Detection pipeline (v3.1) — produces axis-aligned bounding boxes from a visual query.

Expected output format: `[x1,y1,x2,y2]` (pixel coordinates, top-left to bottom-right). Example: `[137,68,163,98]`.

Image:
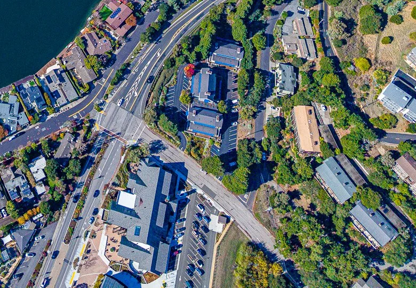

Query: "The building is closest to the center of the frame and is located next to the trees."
[187,109,224,145]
